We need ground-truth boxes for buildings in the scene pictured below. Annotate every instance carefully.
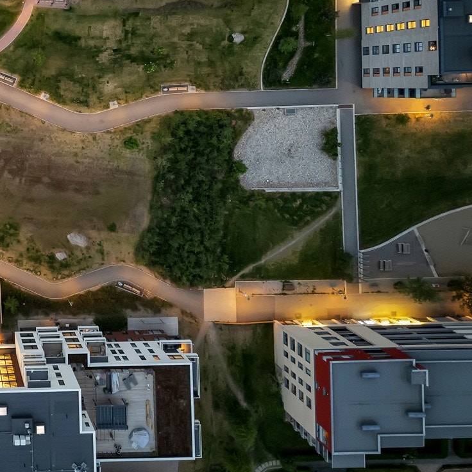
[275,319,472,468]
[0,323,201,472]
[359,0,472,101]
